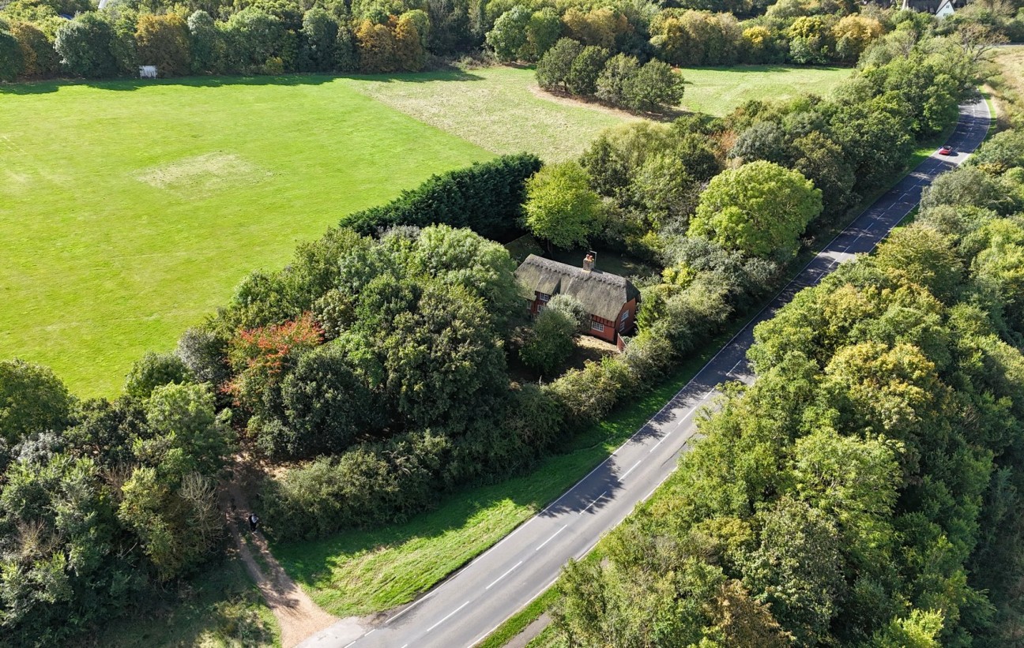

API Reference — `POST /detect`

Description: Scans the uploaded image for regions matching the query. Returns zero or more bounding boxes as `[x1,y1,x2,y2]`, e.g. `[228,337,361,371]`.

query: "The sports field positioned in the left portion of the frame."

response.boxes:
[0,76,498,442]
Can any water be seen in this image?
No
